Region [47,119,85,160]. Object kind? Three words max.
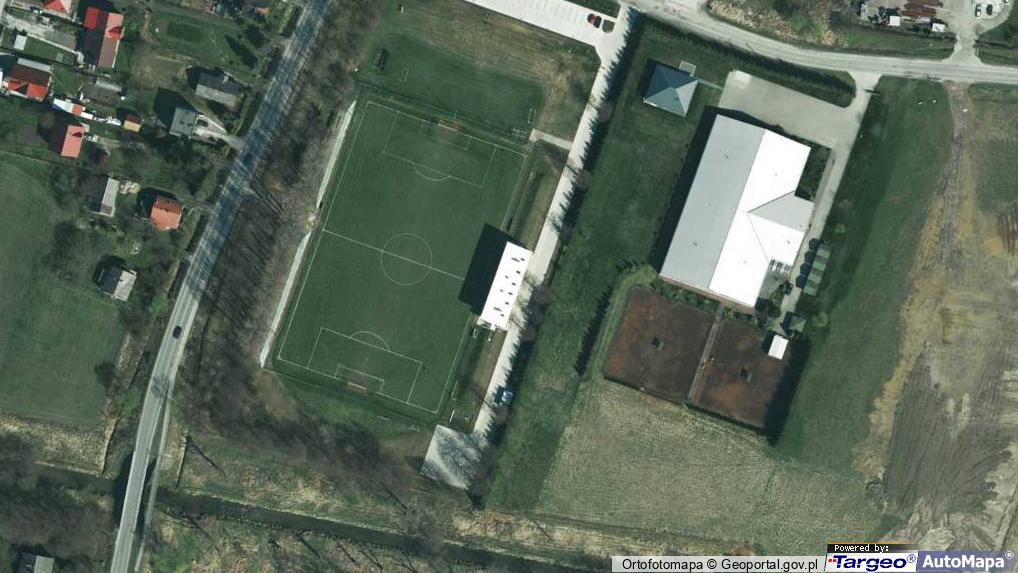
house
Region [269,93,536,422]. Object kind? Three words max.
soccer field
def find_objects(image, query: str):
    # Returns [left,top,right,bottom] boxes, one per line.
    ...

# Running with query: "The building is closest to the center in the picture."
[478,242,532,346]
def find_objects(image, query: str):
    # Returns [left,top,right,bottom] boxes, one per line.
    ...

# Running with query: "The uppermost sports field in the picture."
[383,37,544,128]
